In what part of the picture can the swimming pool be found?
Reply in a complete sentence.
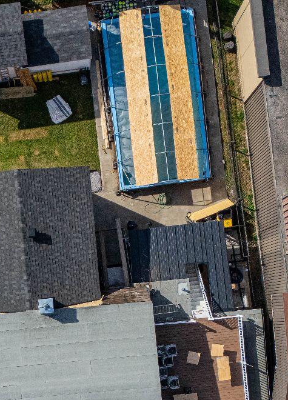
The swimming pool is located in the top region of the scene.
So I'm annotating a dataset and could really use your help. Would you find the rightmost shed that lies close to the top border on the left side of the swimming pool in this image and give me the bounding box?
[22,6,92,76]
